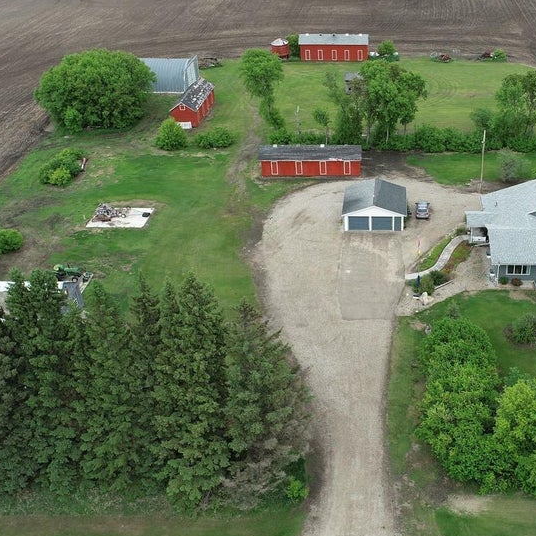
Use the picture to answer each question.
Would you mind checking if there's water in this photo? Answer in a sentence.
No, the scene doesn't show any water.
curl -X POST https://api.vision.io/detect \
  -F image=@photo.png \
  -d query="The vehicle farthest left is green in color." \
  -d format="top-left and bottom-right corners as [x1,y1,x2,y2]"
[43,263,82,281]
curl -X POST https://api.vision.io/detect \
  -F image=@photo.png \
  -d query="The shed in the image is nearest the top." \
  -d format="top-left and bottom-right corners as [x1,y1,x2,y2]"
[297,33,369,61]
